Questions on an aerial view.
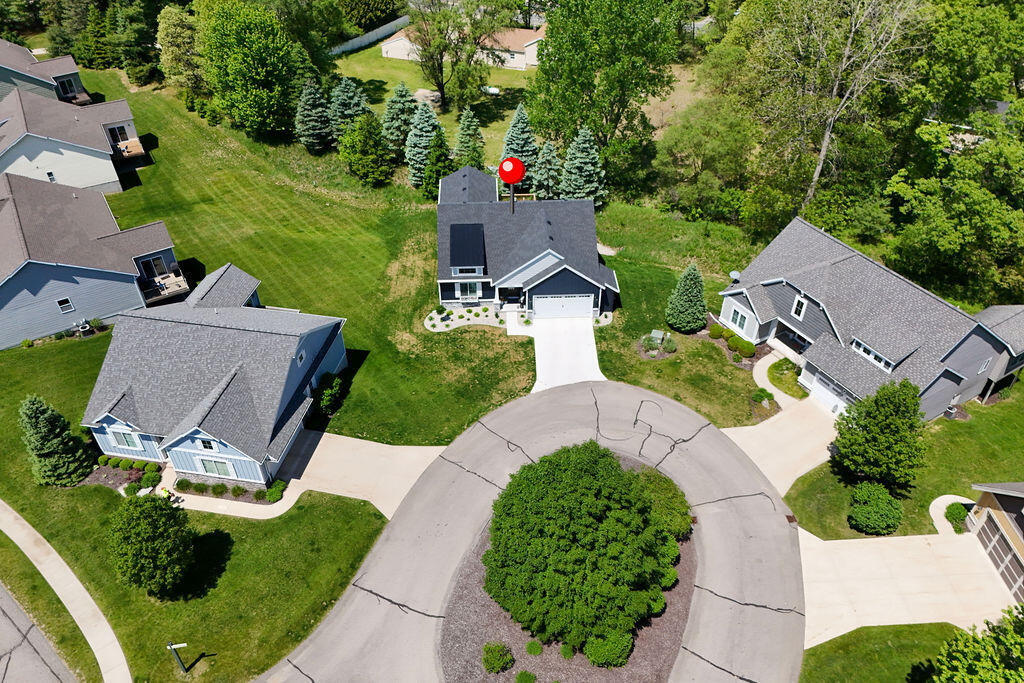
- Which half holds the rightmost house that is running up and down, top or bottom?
bottom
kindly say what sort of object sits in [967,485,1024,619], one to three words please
house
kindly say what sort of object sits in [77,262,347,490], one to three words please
house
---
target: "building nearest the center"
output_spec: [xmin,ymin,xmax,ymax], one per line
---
[434,165,620,321]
